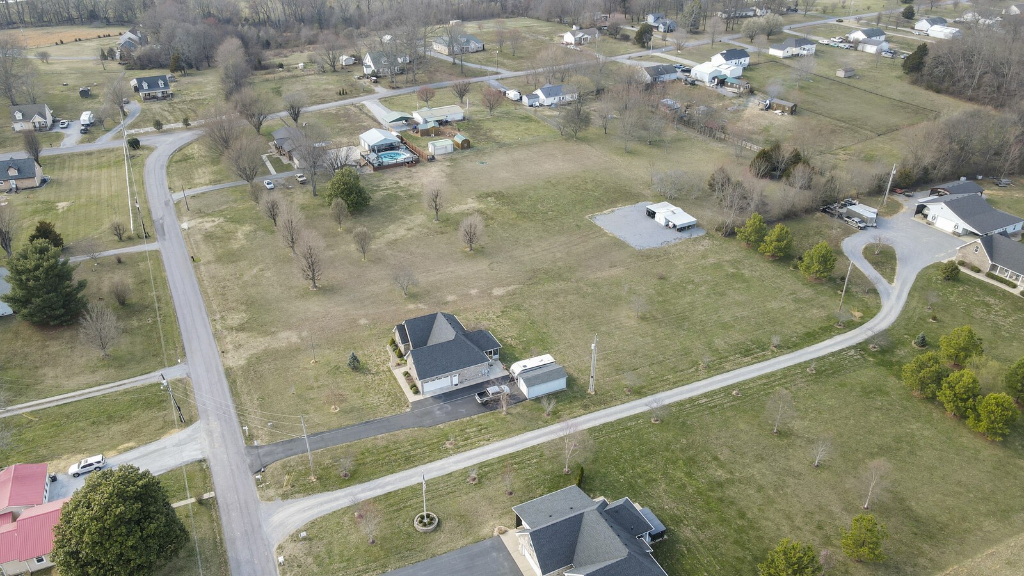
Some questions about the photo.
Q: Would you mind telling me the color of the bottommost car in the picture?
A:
white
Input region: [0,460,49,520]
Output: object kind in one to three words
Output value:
building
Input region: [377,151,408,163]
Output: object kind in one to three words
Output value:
swimming pool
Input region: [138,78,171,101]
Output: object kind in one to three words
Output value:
house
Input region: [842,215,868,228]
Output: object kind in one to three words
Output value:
vehicle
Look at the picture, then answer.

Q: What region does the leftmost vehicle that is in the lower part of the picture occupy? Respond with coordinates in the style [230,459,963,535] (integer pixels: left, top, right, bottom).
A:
[66,453,105,479]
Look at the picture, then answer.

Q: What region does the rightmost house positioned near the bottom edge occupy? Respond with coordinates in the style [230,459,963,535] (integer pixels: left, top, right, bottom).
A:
[509,484,671,576]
